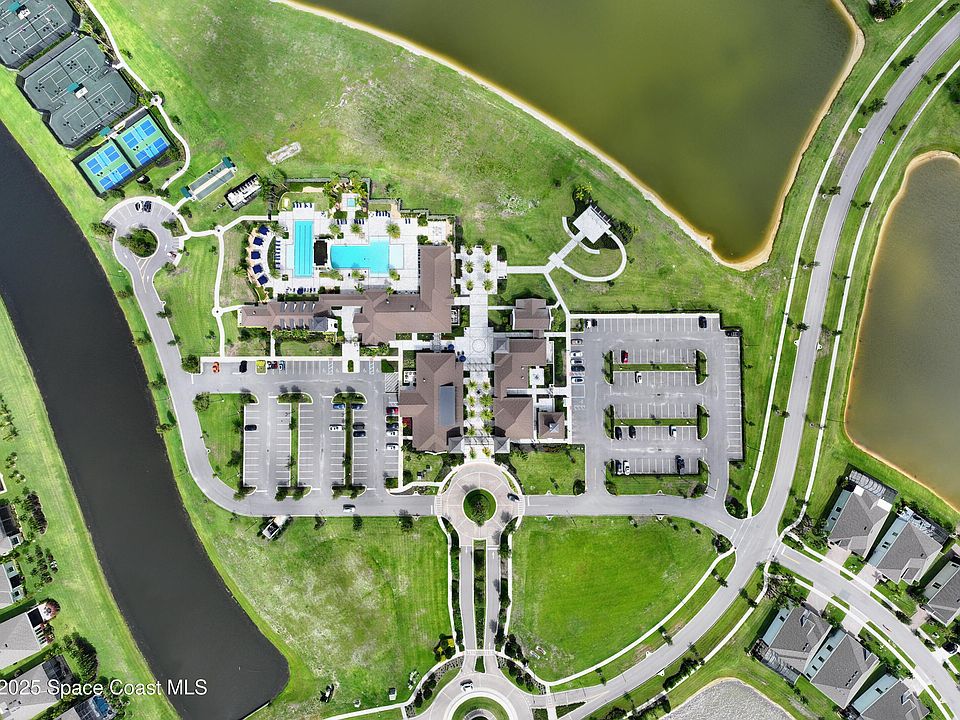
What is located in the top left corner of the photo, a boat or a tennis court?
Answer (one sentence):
The feature located in the top left corner of the photo is a tennis court.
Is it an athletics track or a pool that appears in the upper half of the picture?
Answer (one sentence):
There is a pool in the upper half of the picture.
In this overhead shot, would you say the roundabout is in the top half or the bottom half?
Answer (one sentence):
Seen from above, the roundabout lies in the bottom half of the view.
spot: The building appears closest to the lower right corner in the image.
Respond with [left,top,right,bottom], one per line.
[847,673,929,720]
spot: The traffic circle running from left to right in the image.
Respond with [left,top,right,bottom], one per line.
[429,652,608,720]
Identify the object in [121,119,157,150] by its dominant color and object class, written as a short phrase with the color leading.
blue sports court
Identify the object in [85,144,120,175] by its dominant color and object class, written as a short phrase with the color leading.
blue sports court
